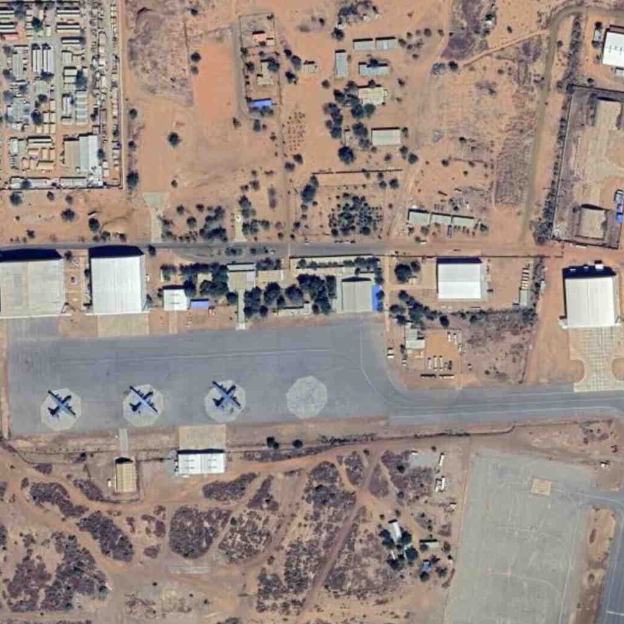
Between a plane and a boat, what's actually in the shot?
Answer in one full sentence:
The one in the frame is a plane.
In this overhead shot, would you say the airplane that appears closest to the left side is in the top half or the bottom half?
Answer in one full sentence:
The airplane that appears closest to the left side is in the bottom half of the image.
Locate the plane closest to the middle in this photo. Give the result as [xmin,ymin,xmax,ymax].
[214,384,240,410]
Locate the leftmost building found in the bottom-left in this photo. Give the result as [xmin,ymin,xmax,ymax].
[116,462,137,492]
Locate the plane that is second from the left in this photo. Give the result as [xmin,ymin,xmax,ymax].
[131,390,159,416]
